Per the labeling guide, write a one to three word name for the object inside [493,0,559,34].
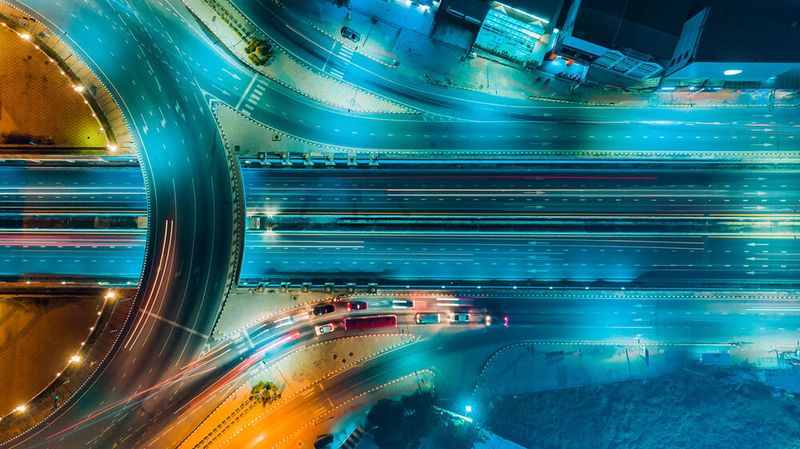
building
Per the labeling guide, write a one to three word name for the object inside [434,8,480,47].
building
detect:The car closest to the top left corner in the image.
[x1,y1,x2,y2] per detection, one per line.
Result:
[339,27,360,41]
